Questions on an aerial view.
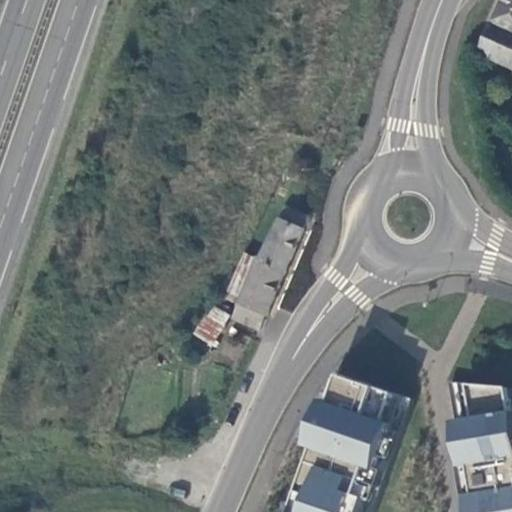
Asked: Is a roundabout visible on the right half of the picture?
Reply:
Yes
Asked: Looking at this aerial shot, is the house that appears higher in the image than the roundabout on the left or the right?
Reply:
right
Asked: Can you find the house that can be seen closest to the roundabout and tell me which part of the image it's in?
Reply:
center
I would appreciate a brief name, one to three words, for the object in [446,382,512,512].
building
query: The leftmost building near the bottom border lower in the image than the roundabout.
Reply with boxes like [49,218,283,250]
[282,372,416,512]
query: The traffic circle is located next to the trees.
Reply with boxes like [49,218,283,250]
[324,117,508,311]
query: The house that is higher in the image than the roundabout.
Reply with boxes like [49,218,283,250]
[478,27,512,70]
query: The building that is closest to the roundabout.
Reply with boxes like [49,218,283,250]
[225,208,318,332]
